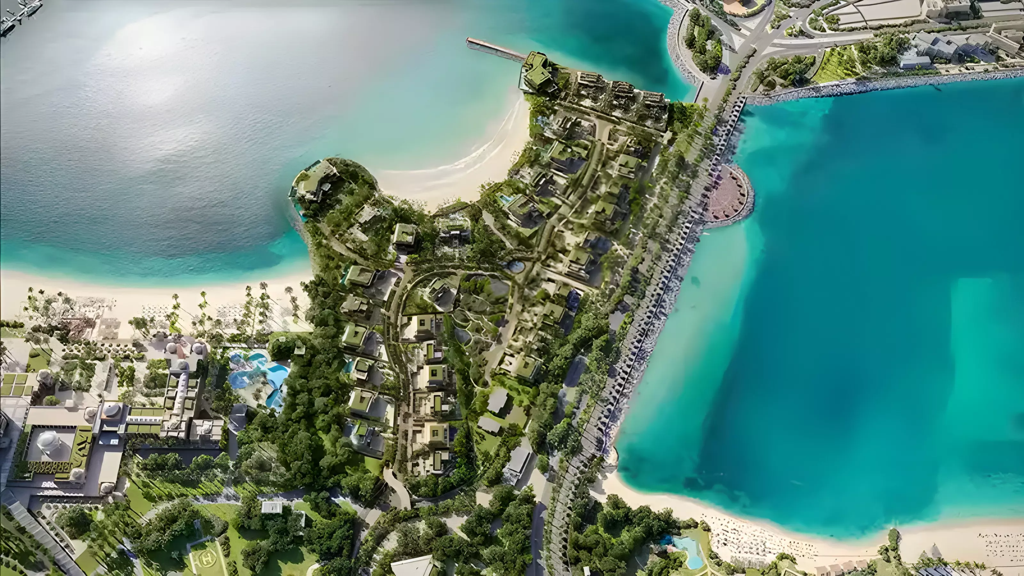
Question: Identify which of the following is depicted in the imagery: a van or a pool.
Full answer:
This aerial view contains a pool.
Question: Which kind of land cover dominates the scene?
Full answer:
What you mostly see from above here is water.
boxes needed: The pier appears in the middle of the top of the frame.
[468,37,525,64]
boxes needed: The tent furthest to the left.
[37,432,60,452]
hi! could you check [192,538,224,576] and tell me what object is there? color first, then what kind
yellow helipad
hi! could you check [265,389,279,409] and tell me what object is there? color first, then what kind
blue swimming pool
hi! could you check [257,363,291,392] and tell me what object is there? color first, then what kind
blue swimming pool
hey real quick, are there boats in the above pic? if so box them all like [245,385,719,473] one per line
[0,23,16,39]
[25,2,43,18]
